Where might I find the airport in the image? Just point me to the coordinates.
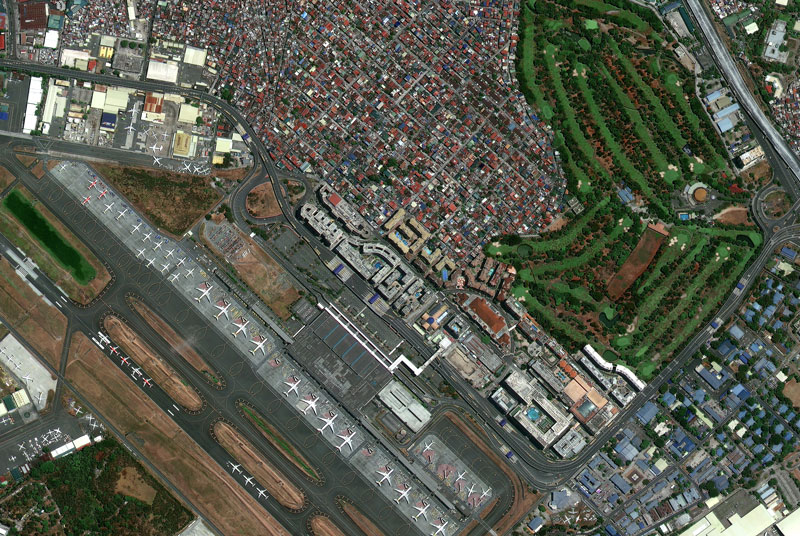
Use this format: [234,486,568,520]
[0,136,529,536]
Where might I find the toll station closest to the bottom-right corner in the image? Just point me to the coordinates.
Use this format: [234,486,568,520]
[707,317,723,334]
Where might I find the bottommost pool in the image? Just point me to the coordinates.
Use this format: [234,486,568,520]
[525,406,541,420]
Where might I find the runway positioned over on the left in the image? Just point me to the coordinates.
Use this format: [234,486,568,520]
[0,228,311,536]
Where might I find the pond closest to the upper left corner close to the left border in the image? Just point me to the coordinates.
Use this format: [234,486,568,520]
[3,189,91,284]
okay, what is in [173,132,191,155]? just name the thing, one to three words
hangar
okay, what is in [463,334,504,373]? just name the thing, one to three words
building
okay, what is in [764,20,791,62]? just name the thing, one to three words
building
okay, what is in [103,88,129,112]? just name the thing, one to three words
hangar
